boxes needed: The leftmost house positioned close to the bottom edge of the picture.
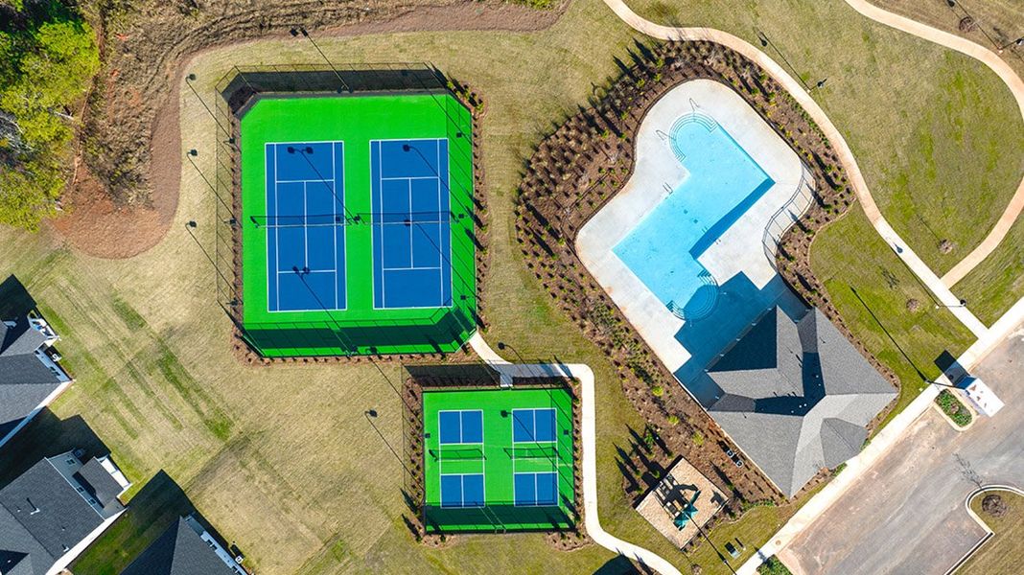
[0,450,137,575]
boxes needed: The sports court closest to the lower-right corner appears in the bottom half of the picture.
[498,390,576,532]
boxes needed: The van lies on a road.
[953,372,1004,418]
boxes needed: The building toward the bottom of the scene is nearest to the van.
[700,305,897,495]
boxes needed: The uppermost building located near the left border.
[0,304,71,452]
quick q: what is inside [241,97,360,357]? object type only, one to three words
tennis court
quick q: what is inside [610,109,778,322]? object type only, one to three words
swimming pool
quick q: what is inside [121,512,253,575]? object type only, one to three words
house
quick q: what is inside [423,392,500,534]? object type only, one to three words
sports court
